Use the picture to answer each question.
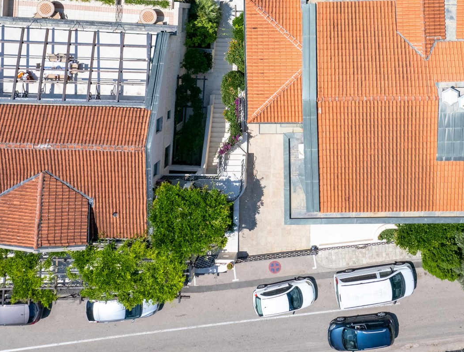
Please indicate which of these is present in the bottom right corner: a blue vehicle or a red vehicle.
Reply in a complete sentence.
You can see a blue vehicle in the bottom right corner.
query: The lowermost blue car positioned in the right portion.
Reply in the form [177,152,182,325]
[326,310,396,352]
